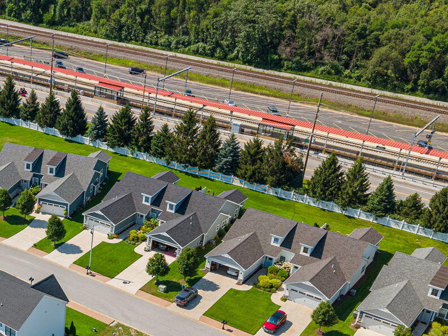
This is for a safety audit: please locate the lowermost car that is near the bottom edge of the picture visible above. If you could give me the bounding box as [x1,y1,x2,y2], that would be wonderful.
[265,309,287,333]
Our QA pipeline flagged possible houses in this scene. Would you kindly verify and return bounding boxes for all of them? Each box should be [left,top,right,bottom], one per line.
[0,272,77,336]
[354,245,448,336]
[0,140,111,219]
[81,167,241,257]
[204,202,379,307]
